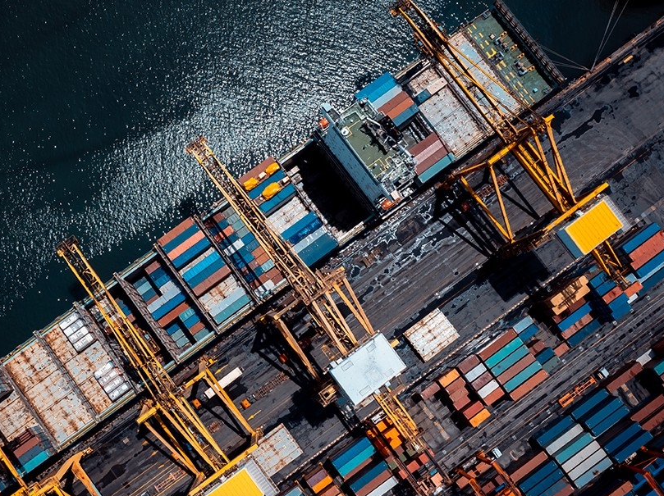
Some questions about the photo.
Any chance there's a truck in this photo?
Yes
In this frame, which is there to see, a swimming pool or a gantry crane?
gantry crane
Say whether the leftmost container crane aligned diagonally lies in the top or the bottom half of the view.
bottom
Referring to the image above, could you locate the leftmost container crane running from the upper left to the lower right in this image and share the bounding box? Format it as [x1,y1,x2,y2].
[49,238,277,496]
